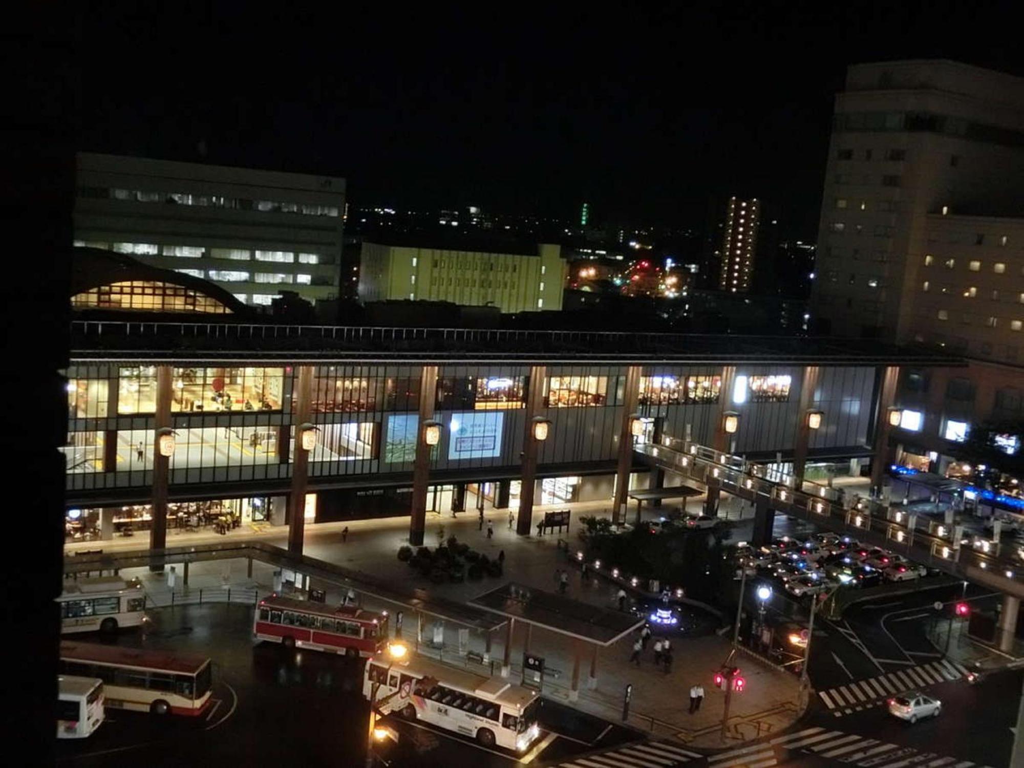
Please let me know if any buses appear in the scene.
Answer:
Yes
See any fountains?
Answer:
Yes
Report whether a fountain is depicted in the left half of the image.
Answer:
No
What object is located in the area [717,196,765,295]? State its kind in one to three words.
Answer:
building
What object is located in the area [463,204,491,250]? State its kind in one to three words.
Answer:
building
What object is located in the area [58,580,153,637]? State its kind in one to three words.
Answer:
bus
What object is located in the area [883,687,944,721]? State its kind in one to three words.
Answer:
car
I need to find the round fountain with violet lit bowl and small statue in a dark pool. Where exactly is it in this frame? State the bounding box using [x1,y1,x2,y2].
[615,592,729,640]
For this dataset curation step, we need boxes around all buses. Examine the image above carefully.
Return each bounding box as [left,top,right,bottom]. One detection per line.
[360,638,547,748]
[254,595,396,657]
[60,640,217,714]
[59,675,100,737]
[58,580,153,637]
